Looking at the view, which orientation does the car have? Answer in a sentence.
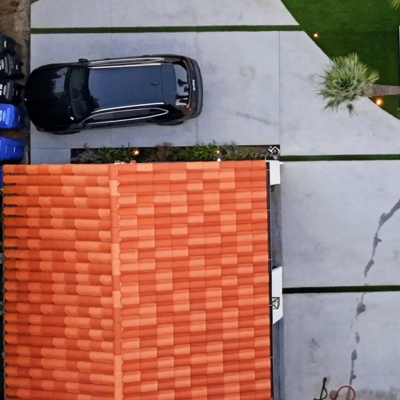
The car is oriented from left to right.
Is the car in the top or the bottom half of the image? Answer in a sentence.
The top half of the photo is where the car is.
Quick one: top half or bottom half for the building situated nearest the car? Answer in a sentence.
The building situated nearest the car sits in the bottom half of the picture.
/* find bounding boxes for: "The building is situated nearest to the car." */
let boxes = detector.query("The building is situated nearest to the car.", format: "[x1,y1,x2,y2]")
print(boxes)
[0,156,283,400]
